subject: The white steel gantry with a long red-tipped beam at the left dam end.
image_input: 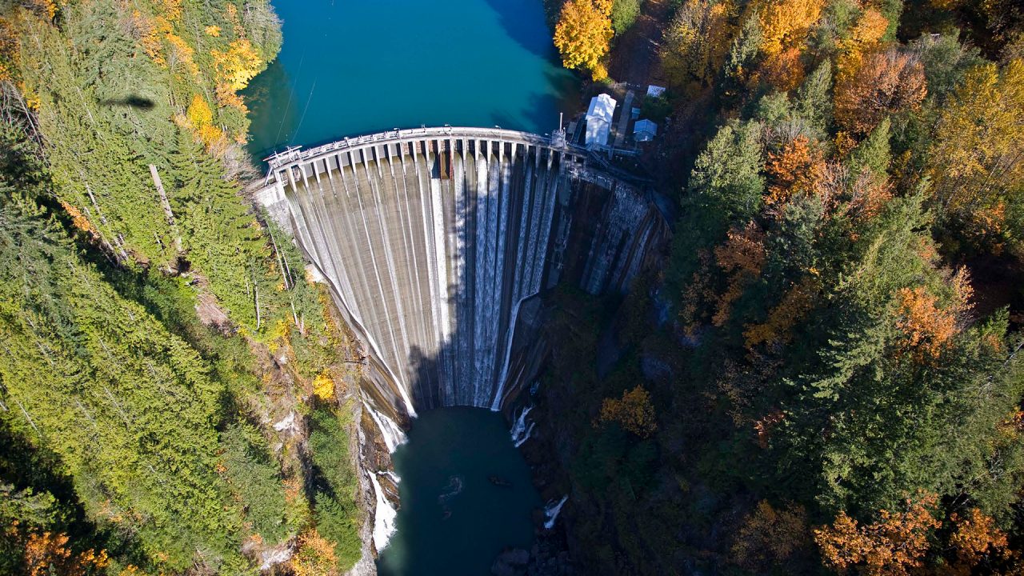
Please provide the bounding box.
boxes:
[264,141,303,176]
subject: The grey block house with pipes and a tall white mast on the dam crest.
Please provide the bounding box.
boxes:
[548,103,570,152]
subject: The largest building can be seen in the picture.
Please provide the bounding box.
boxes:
[585,90,621,150]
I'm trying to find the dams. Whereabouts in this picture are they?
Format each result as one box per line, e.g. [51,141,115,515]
[252,122,680,416]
